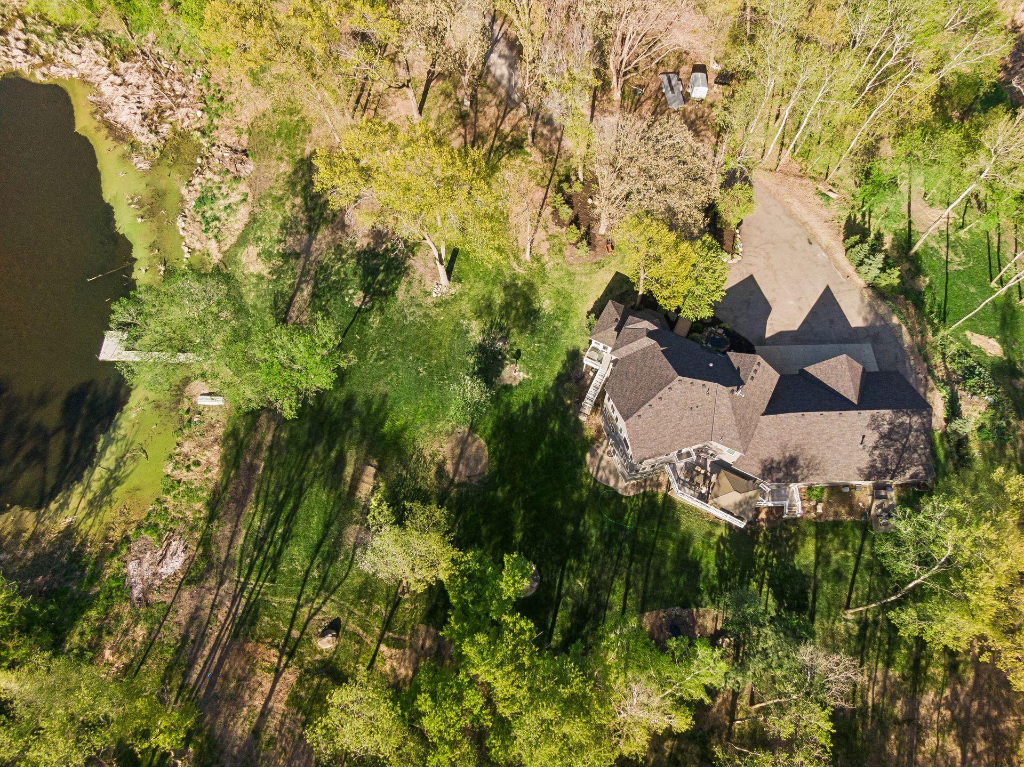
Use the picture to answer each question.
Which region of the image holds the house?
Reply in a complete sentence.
The house sits in the right section of the image.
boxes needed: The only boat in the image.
[195,393,225,405]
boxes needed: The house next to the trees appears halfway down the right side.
[577,300,935,529]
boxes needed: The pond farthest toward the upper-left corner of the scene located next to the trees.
[0,73,142,517]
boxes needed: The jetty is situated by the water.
[99,330,188,363]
